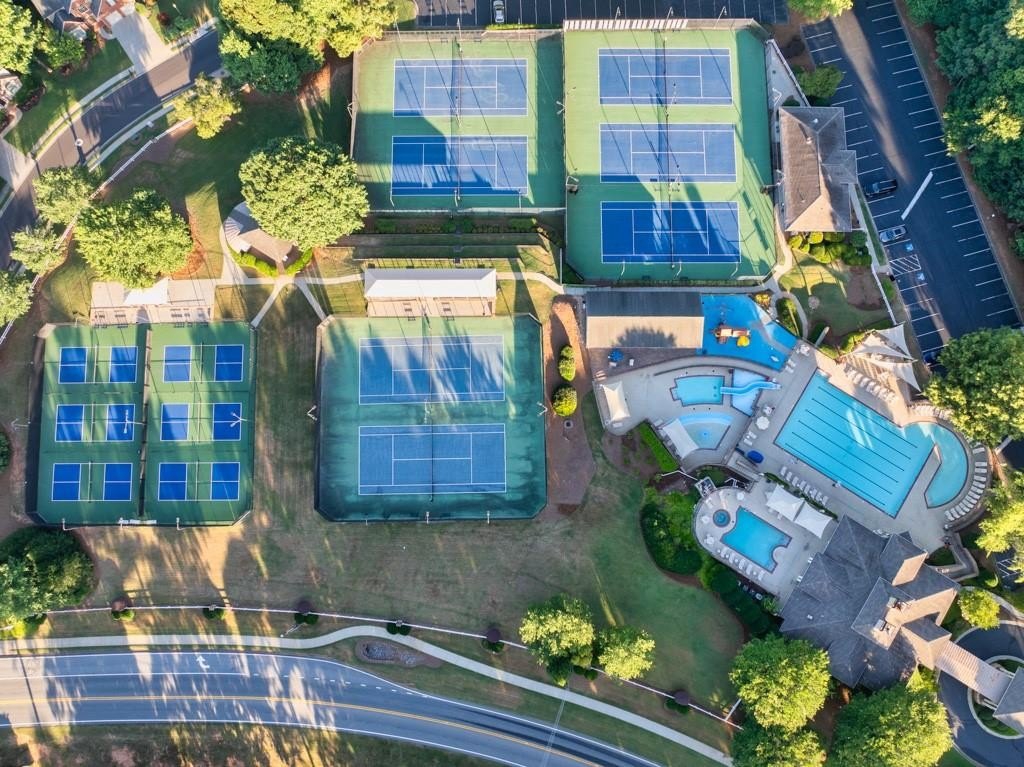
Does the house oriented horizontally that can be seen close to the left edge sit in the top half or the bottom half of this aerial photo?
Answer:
top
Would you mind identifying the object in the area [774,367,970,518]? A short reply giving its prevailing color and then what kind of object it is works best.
blue swimming pool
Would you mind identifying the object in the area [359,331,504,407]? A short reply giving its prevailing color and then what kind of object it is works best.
blue tennis court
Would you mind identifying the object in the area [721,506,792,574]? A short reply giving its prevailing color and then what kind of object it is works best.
blue swimming pool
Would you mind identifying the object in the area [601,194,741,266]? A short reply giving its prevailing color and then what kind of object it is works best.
blue tennis court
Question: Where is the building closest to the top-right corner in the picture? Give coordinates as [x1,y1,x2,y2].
[774,107,860,235]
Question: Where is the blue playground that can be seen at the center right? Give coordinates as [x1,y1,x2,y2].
[702,292,799,372]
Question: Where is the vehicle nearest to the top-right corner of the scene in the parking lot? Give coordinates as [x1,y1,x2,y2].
[867,179,898,197]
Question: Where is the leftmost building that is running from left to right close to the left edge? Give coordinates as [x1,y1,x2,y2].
[38,0,143,44]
